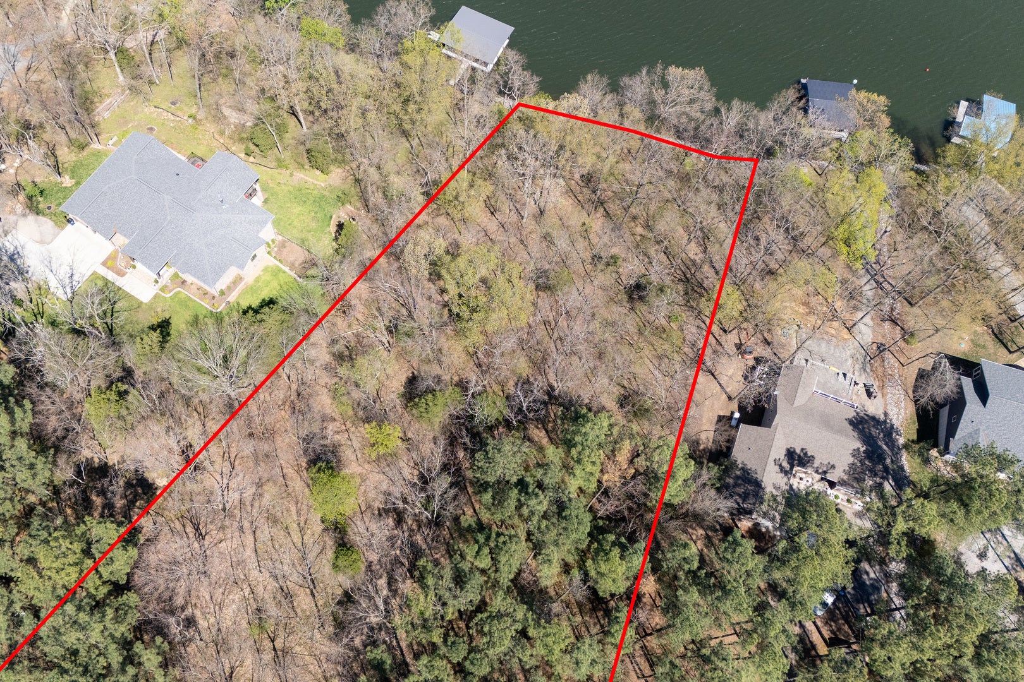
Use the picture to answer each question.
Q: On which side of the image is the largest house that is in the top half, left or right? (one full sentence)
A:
You can find the largest house that is in the top half on the left side of the picture.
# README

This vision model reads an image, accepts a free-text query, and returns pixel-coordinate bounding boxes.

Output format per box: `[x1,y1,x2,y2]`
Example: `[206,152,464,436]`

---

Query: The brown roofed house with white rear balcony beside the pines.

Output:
[715,363,885,527]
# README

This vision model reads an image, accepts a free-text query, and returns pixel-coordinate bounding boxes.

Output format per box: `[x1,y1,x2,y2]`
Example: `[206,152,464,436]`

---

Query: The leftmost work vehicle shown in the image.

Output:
[741,337,757,363]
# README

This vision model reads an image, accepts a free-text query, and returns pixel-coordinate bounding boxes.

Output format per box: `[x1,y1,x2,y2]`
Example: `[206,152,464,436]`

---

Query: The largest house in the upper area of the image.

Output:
[59,132,276,289]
